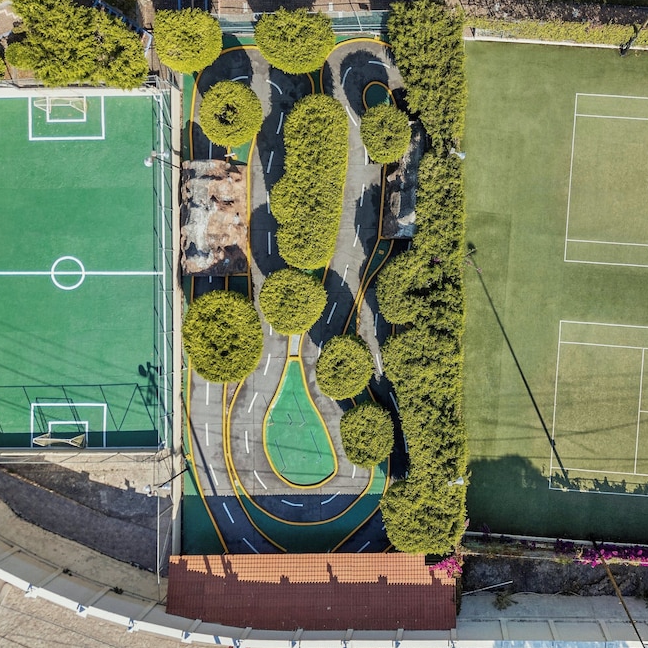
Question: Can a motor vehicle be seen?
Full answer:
No, no motor vehicle can be seen from above.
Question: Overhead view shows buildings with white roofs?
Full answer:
No, the frame has no building with a white roof in it.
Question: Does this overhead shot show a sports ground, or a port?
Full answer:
This looks like a sports ground.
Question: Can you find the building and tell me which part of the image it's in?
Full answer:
The building is located in the bottom region of the scene.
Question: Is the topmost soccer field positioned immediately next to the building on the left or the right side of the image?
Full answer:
It is on the left.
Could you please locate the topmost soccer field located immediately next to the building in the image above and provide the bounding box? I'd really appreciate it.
[0,94,172,444]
